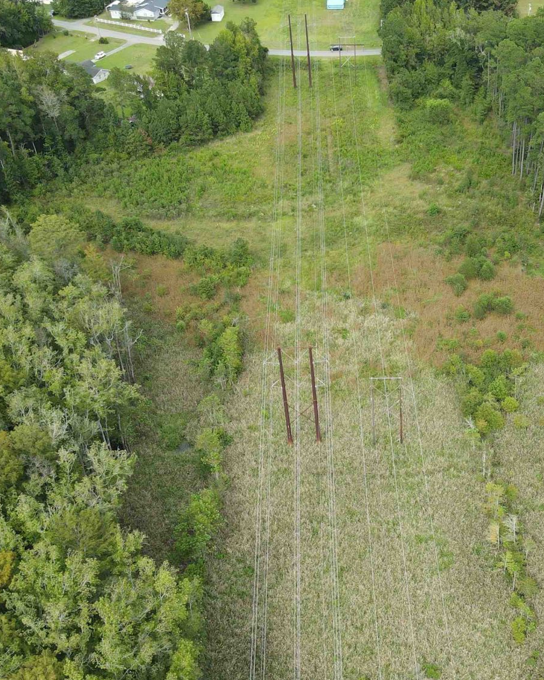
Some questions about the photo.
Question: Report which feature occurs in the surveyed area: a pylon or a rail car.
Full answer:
It is a pylon that can be seen here.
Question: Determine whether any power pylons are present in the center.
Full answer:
Yes, a power pylon appears in the center.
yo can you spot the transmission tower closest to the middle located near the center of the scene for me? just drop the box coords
[262,346,328,443]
